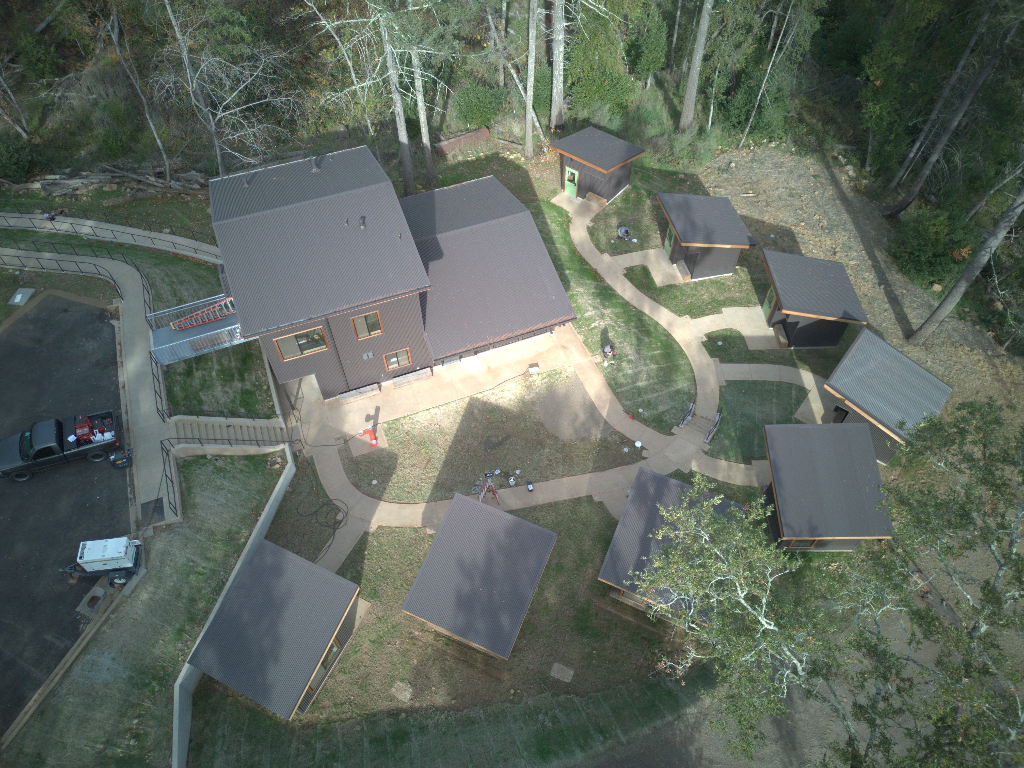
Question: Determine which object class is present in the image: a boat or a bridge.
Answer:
bridge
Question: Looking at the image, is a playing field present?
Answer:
No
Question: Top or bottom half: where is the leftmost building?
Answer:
bottom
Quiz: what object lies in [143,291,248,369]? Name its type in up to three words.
bridge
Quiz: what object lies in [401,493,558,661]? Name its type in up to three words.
building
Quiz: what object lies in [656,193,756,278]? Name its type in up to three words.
building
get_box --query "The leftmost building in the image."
[188,539,361,721]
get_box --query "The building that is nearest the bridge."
[210,143,577,401]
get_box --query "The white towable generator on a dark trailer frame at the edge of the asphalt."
[60,537,148,580]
